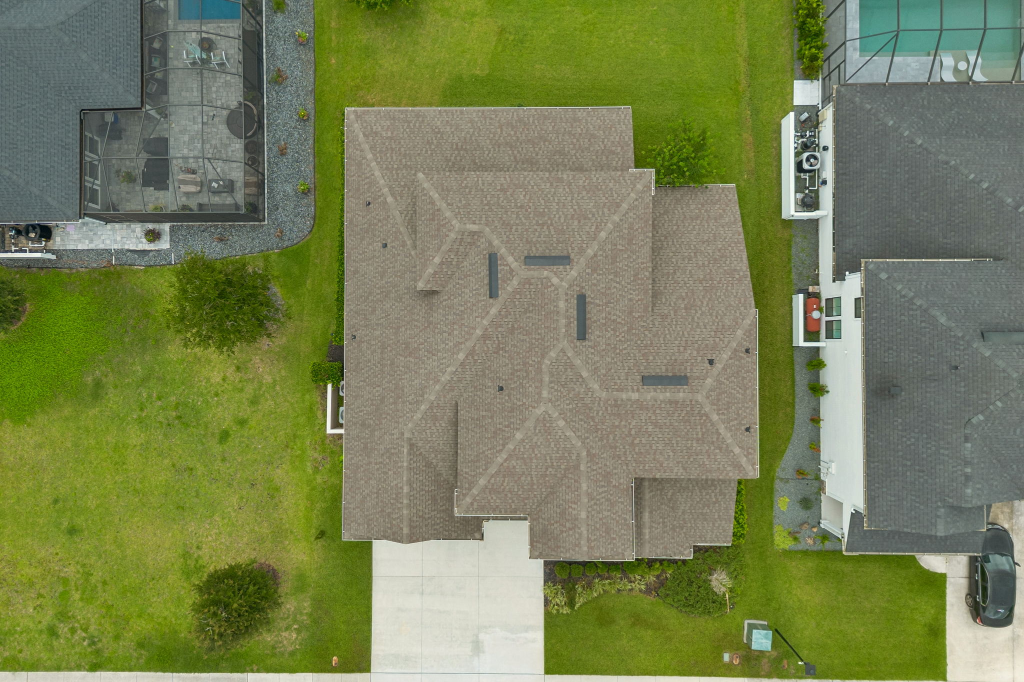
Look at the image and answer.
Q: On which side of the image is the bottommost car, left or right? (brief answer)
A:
right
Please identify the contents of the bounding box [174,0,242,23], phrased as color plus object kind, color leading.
blue swimming pool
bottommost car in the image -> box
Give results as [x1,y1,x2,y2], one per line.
[968,524,1024,627]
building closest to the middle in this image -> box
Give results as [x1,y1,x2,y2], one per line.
[343,107,759,562]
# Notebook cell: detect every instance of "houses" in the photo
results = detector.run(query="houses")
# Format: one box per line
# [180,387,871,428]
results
[818,82,1024,556]
[0,0,167,229]
[343,107,759,562]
